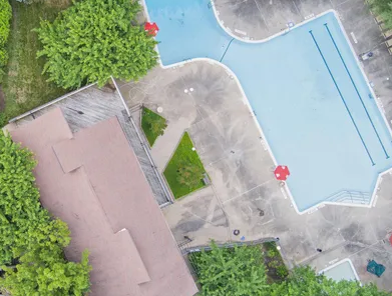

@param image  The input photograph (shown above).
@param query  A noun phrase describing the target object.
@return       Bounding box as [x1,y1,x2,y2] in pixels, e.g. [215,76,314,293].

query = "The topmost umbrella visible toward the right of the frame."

[269,165,288,180]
